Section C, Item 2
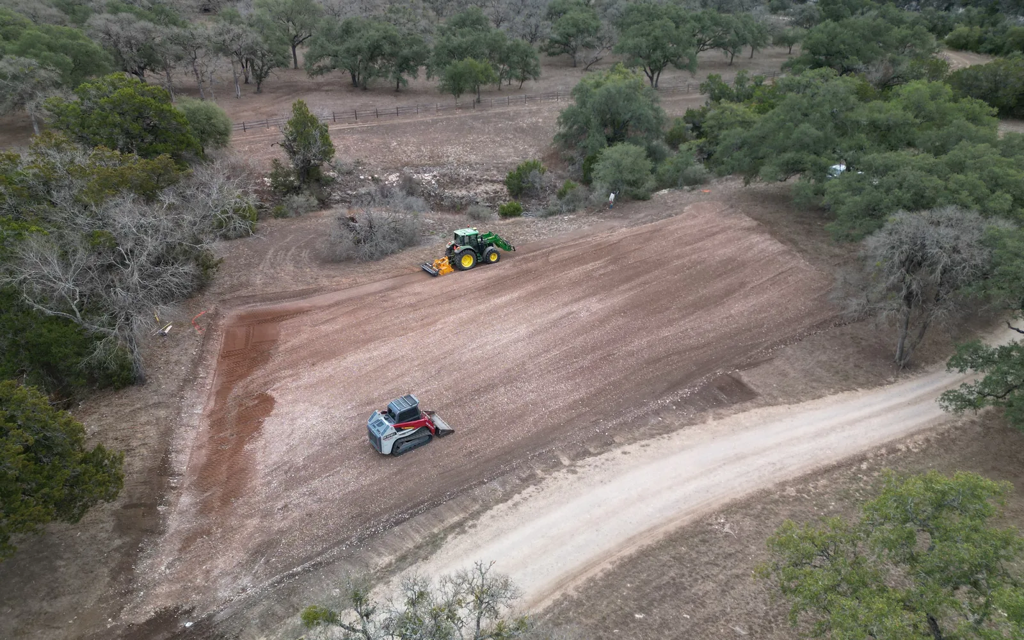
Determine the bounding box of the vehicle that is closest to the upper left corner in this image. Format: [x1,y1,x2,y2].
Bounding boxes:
[443,226,512,271]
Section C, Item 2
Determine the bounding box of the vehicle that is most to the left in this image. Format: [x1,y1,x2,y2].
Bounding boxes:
[365,391,453,456]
